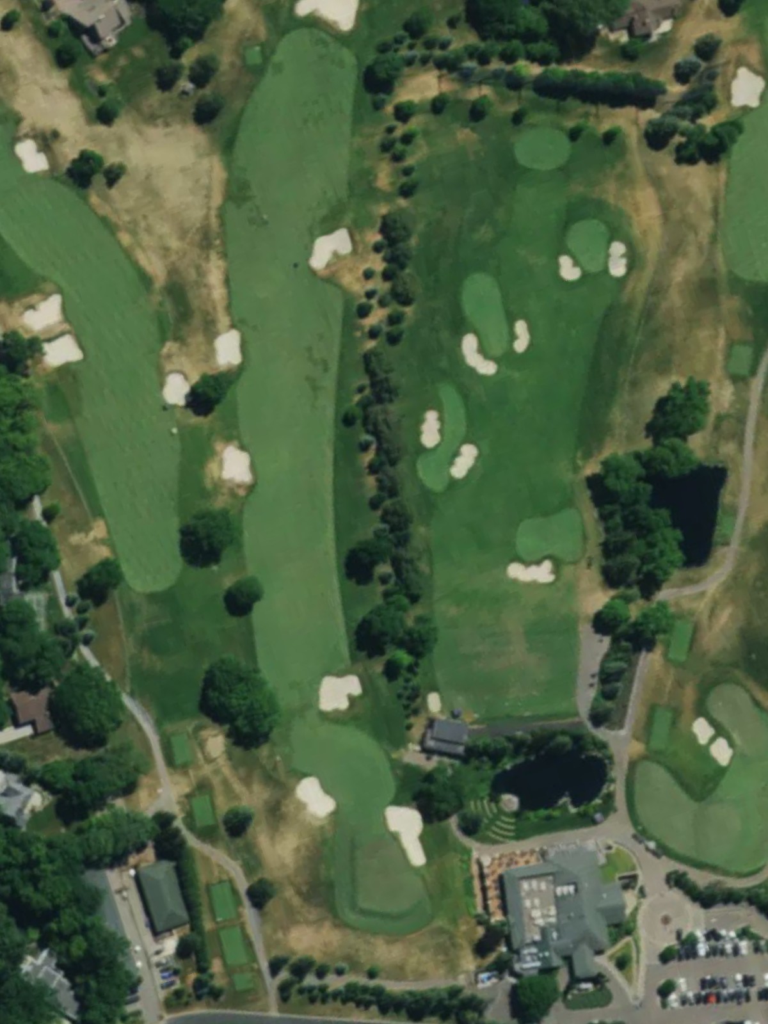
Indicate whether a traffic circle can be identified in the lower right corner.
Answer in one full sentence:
Yes, I can see a traffic circle in the lower right corner.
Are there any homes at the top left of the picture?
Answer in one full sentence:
Yes, a home appears at the top left of the picture.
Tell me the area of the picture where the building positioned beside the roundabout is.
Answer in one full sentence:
The building positioned beside the roundabout sits in the bottom right section of the image.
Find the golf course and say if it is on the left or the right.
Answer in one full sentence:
The golf course is on the left side of the image.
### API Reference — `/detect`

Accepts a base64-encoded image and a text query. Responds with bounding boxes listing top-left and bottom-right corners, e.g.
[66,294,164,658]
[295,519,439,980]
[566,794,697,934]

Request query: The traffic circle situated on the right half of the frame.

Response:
[636,884,696,946]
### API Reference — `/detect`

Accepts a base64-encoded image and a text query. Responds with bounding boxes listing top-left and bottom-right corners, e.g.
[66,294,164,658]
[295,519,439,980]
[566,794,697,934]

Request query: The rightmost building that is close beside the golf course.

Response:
[498,848,626,978]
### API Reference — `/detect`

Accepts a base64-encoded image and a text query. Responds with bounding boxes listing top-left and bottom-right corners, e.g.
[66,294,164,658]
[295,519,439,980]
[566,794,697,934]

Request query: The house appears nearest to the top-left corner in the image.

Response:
[47,0,131,40]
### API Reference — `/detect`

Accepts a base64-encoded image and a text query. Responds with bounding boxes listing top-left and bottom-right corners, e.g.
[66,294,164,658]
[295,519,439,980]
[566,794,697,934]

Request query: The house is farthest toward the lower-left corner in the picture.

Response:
[19,949,78,1018]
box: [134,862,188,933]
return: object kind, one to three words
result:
barn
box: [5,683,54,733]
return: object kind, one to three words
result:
house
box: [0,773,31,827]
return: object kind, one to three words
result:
house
